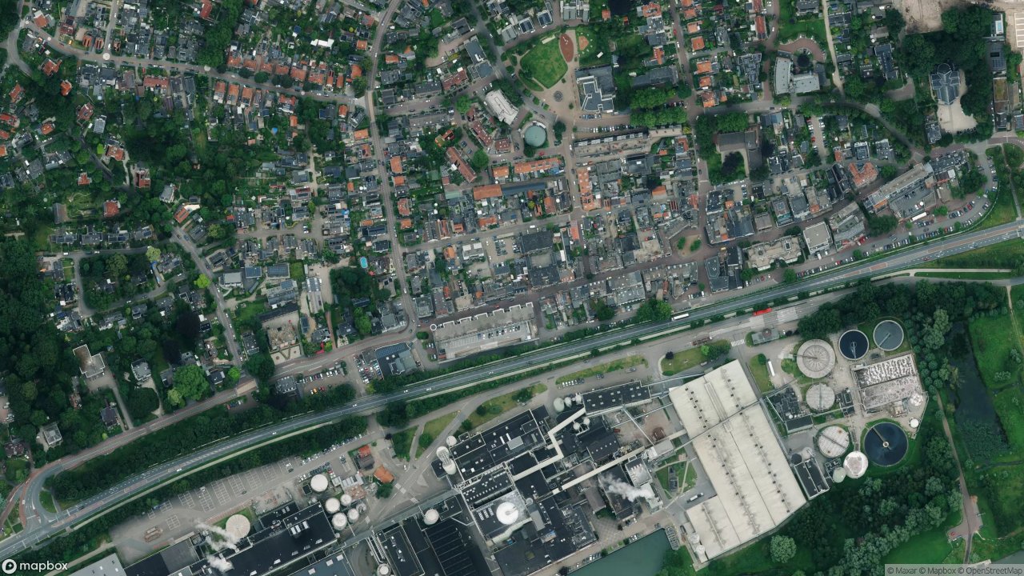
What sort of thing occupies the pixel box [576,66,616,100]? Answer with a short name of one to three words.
building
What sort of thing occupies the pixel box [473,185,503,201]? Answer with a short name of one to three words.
house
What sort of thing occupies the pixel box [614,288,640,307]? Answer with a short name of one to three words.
house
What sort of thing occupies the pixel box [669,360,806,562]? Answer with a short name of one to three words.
warehouse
